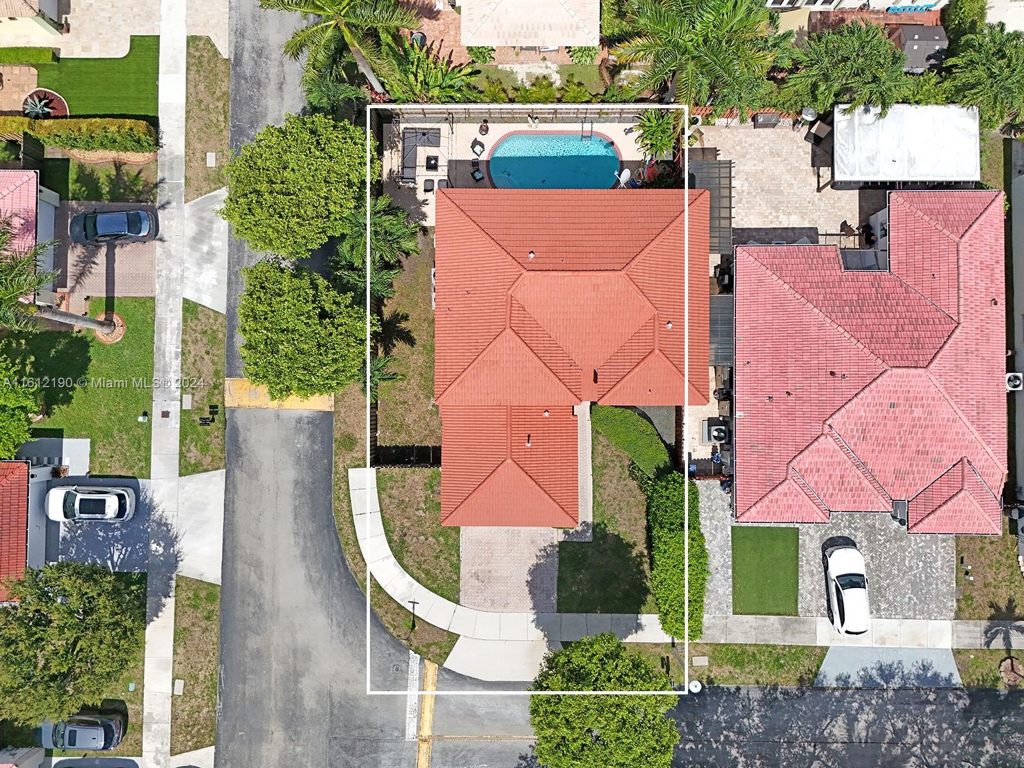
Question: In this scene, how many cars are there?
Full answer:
The count of cars comes to 4.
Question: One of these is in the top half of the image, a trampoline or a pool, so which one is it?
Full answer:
You can see a pool in the top half of the image.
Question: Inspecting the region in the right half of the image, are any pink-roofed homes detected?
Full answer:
Yes, a pink-roofed home is visible in the right half of the image.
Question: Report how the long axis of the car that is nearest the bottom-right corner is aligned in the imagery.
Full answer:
The car that is nearest the bottom-right corner is laid out up and down.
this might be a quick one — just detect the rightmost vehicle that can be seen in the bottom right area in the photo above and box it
[825,540,873,631]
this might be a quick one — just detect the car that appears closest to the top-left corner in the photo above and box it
[67,207,152,248]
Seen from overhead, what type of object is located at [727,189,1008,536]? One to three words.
house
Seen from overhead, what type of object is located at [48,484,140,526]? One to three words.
car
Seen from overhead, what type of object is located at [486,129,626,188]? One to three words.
swimming pool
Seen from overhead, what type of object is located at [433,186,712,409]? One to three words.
house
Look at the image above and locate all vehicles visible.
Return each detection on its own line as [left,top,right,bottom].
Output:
[48,484,140,526]
[43,708,129,754]
[67,207,152,248]
[825,540,873,631]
